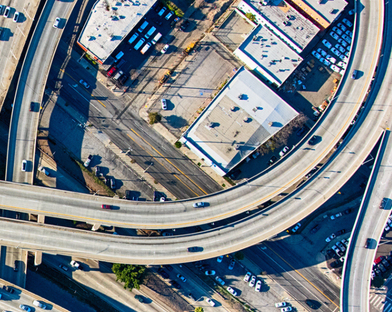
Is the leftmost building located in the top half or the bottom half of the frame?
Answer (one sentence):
The leftmost building sits in the top half of the picture.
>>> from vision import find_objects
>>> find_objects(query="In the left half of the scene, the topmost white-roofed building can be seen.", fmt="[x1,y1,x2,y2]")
[74,0,156,65]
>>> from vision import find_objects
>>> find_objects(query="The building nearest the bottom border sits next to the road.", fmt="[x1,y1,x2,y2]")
[173,68,299,175]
